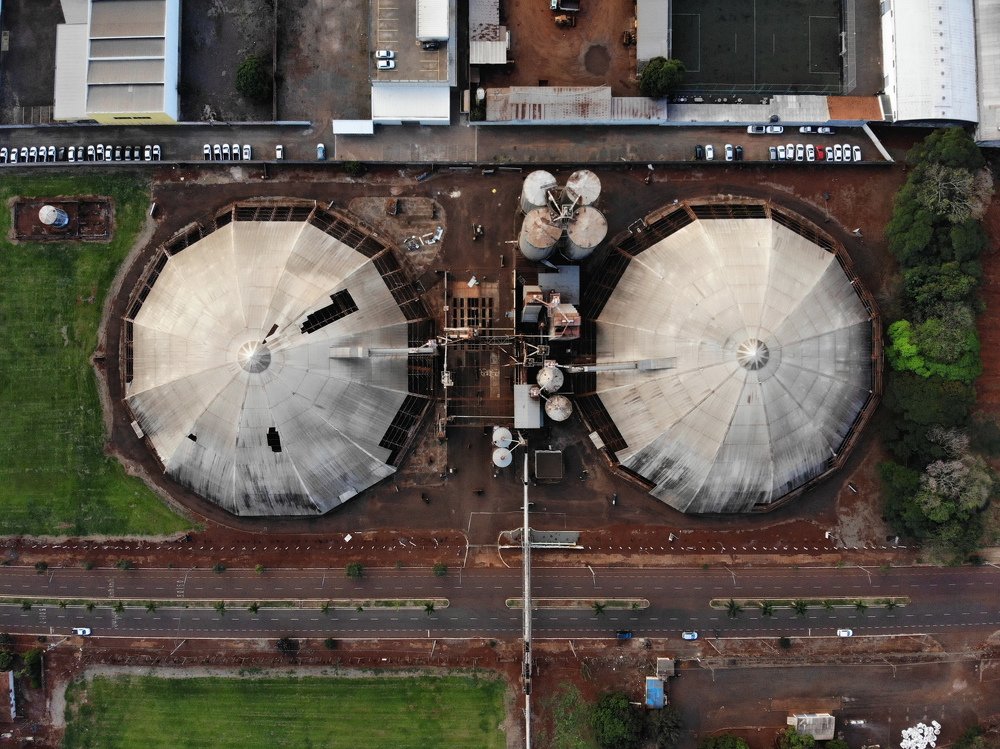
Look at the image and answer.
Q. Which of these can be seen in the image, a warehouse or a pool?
warehouse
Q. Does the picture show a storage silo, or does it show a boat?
storage silo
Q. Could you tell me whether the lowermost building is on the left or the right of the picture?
right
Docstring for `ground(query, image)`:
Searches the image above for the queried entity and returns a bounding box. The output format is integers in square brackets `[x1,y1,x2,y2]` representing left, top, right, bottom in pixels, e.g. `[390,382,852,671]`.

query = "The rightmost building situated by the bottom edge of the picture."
[783,710,835,739]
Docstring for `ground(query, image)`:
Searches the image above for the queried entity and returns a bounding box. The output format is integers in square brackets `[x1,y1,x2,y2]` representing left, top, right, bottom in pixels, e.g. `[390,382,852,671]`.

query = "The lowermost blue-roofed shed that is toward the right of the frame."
[644,674,667,708]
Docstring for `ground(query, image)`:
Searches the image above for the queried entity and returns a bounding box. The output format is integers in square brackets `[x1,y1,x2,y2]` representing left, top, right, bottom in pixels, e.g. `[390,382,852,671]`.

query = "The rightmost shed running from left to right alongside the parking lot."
[486,85,611,120]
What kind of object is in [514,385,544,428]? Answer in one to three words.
shed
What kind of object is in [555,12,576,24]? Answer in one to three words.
vehicle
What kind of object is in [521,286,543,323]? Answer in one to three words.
house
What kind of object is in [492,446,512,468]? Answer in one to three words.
silo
